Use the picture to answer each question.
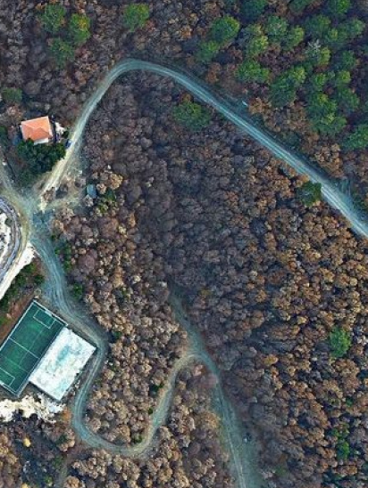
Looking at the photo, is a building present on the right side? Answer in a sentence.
No, I can find no building on the right side.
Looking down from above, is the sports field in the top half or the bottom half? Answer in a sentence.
You can find the sports field in the bottom half.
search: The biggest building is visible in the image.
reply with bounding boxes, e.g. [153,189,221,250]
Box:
[21,116,54,144]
